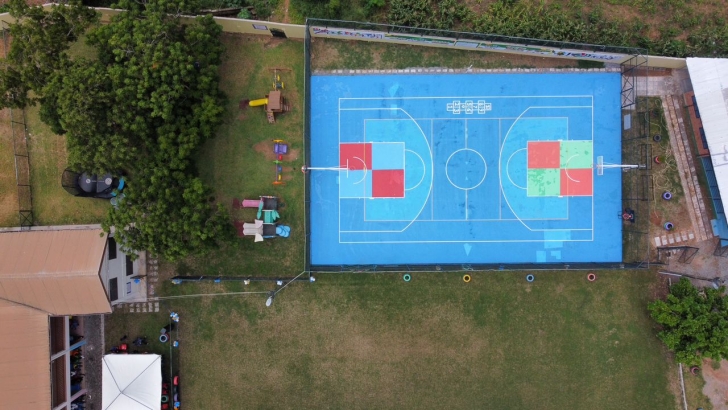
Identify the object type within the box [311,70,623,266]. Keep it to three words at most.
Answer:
basketball court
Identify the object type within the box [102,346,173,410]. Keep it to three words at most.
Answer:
tent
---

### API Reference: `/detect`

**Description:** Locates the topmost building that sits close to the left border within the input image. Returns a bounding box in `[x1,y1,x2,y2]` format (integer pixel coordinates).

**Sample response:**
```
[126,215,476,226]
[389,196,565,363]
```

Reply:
[0,229,138,315]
